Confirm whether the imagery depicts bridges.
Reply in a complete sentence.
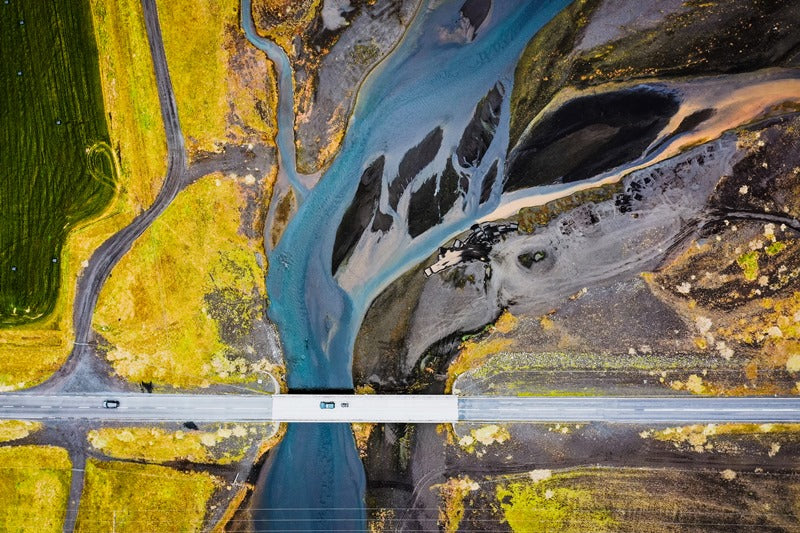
Yes, the frame does contain a bridge.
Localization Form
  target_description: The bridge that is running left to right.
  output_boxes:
[272,394,459,427]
